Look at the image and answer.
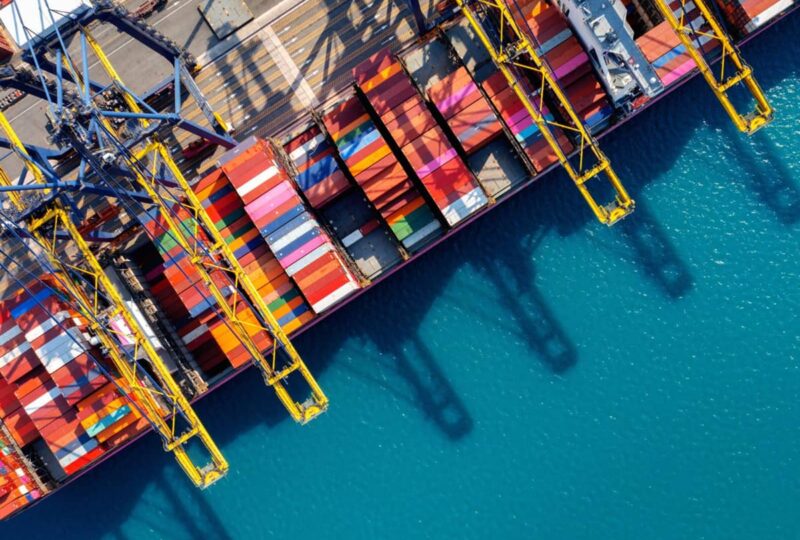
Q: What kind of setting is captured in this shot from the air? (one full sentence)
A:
It's a port.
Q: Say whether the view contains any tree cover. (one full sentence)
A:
No, no tree cover is visible.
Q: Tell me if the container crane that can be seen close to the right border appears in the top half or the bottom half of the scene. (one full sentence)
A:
The container crane that can be seen close to the right border is in the top half of the image.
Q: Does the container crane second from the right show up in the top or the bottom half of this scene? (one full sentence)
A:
The container crane second from the right is in the top half of the image.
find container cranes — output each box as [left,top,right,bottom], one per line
[389,0,639,225]
[660,0,780,134]
[0,77,230,492]
[0,0,329,427]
